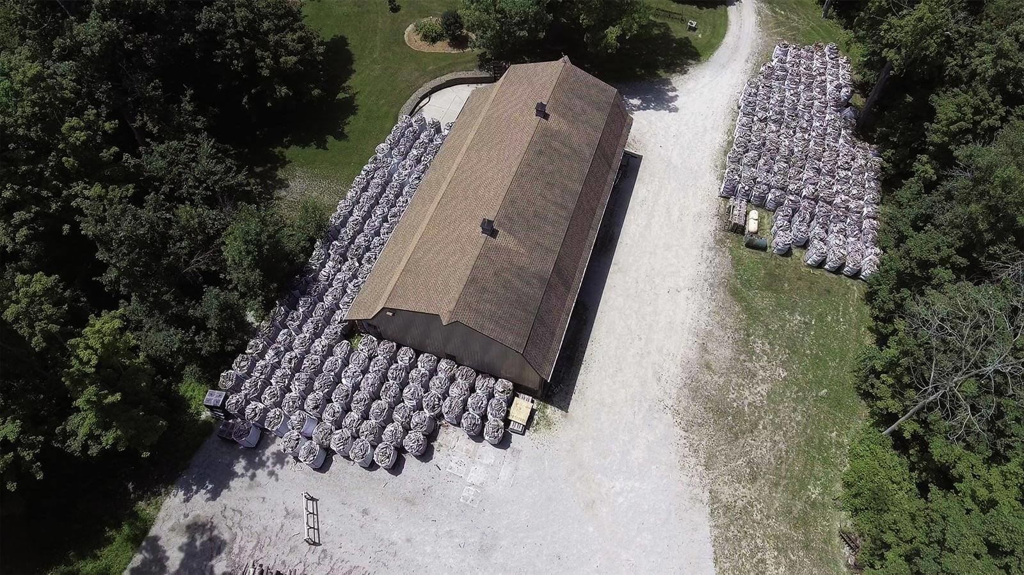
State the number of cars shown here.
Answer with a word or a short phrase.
0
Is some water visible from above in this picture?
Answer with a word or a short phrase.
No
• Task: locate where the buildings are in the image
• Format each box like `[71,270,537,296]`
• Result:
[343,47,634,393]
